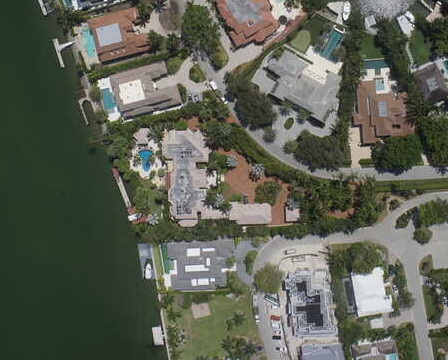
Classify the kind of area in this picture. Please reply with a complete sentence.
The picture captures a residential area.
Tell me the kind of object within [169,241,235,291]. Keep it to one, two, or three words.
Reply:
house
